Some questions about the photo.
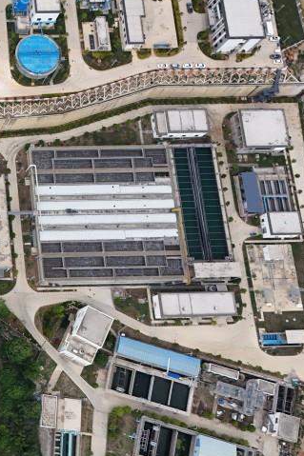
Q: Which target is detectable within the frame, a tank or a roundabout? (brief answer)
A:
tank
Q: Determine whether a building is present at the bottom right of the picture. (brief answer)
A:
Yes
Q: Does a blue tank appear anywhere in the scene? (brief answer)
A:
Yes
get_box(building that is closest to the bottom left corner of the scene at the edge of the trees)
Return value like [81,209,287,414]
[38,396,57,428]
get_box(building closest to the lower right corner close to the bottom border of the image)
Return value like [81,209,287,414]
[268,414,300,443]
